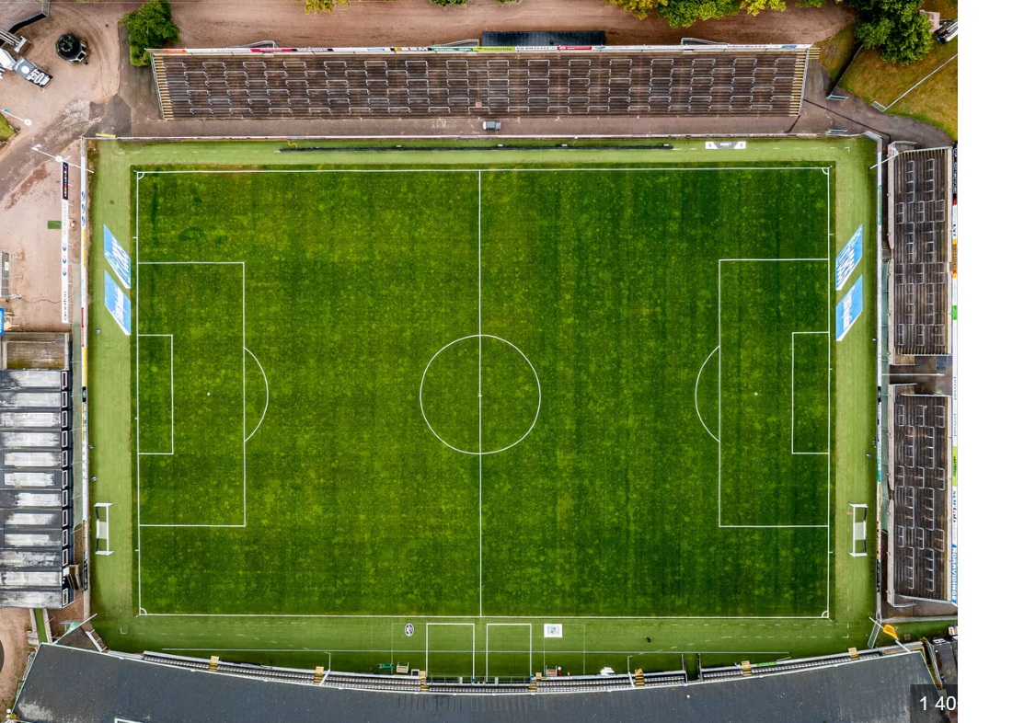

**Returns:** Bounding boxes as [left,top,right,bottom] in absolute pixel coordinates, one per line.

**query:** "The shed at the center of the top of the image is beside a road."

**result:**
[483,31,605,51]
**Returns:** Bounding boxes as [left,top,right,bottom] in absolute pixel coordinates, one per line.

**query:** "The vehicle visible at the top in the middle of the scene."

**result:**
[483,118,501,130]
